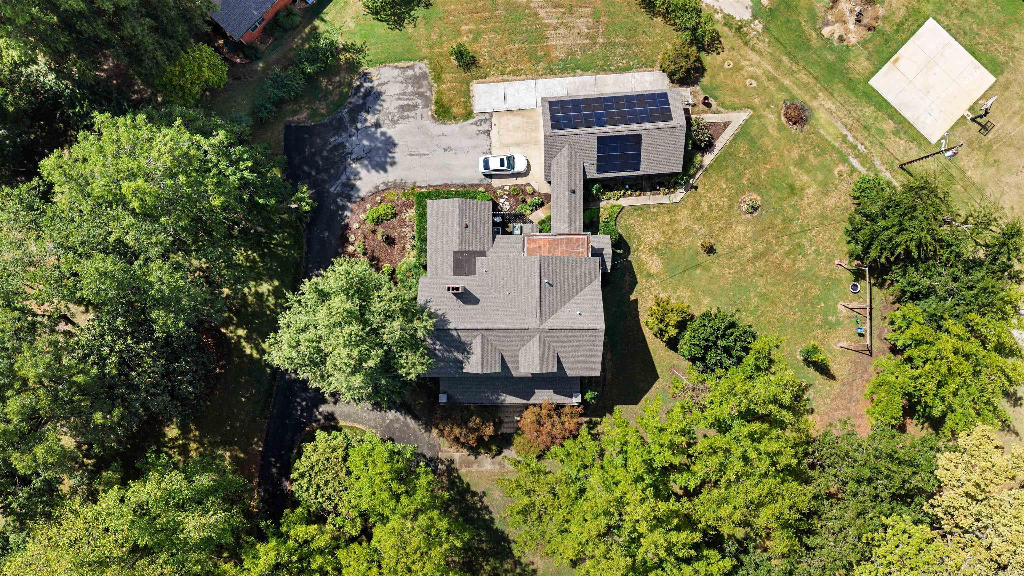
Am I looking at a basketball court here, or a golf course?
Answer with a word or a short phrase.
basketball court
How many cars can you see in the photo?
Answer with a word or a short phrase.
1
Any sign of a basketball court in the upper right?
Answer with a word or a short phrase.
Yes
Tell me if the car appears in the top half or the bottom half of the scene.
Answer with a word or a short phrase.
top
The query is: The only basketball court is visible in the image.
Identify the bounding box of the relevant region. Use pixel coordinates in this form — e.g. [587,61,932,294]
[869,17,996,144]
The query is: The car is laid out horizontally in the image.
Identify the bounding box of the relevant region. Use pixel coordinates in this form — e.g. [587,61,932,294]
[478,152,528,175]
